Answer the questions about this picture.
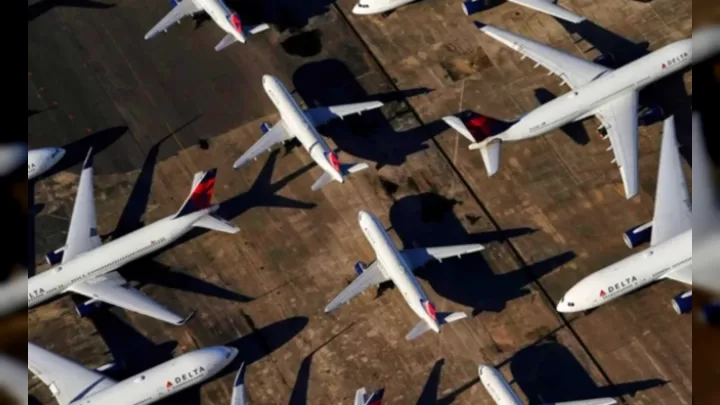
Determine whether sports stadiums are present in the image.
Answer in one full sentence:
No, no sports stadium is visible in the scene.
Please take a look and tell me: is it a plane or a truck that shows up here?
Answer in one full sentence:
There is a plane in the scene.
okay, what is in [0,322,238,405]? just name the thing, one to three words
airplane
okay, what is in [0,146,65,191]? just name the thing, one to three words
airplane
